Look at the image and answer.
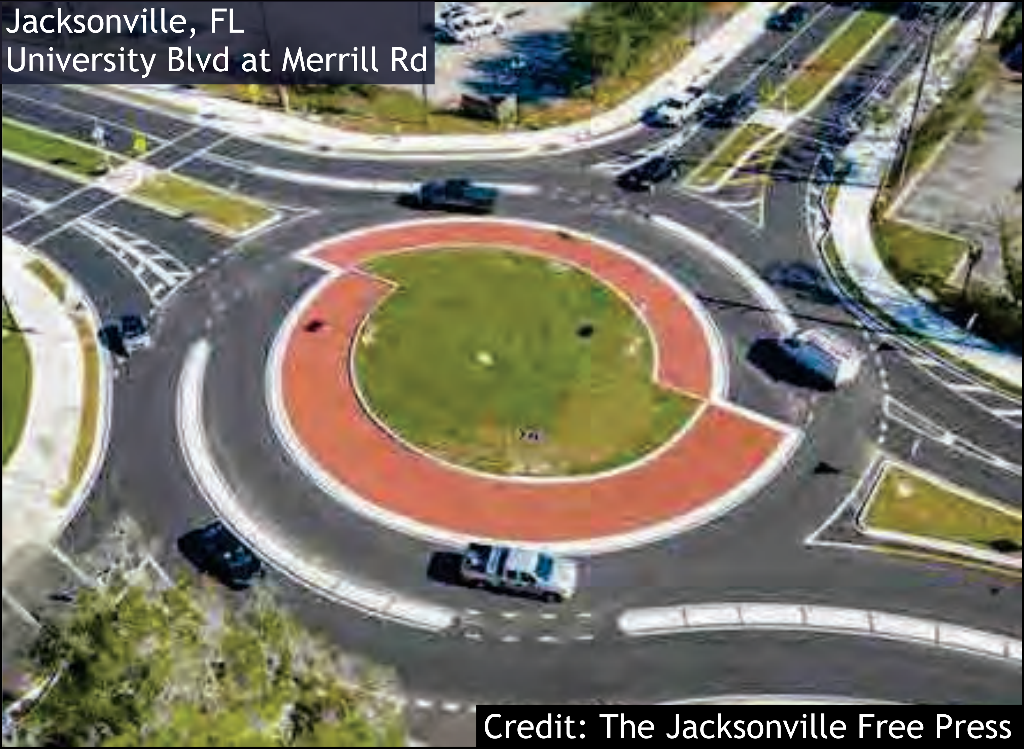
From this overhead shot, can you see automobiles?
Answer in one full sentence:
Yes, the frame does contain an automobile.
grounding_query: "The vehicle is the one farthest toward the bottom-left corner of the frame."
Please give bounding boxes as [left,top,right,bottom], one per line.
[187,518,271,589]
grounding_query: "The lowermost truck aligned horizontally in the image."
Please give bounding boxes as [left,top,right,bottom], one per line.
[459,528,579,589]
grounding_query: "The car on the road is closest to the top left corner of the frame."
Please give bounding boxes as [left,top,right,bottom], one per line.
[101,308,156,356]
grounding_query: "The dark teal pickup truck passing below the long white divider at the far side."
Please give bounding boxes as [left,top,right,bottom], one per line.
[422,176,493,207]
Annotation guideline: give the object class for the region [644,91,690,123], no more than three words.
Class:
car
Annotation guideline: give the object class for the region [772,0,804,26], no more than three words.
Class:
car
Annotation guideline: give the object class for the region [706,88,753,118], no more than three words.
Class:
truck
